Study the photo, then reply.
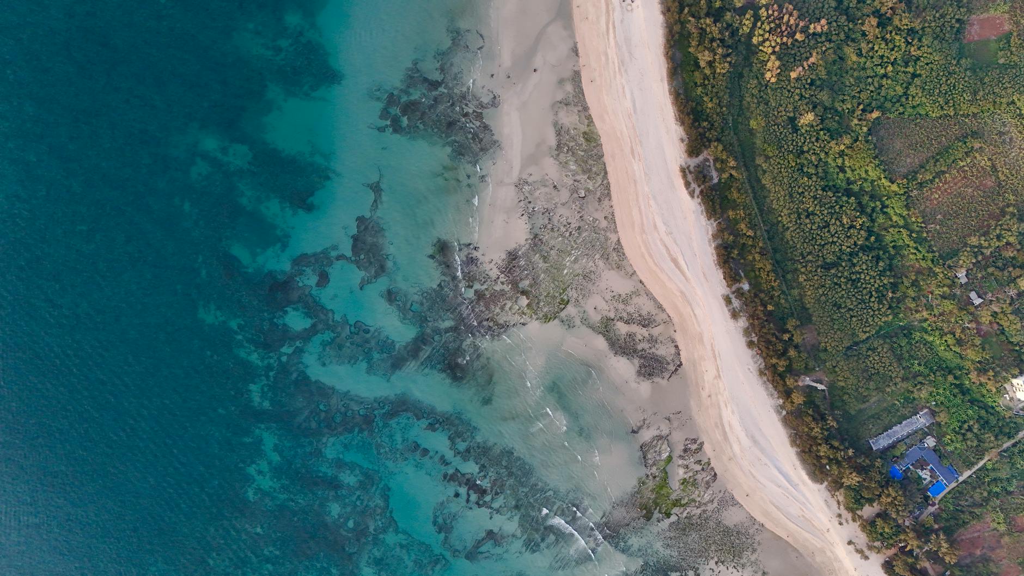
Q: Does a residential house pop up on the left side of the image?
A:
No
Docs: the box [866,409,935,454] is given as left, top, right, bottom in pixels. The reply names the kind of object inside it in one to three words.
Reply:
house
